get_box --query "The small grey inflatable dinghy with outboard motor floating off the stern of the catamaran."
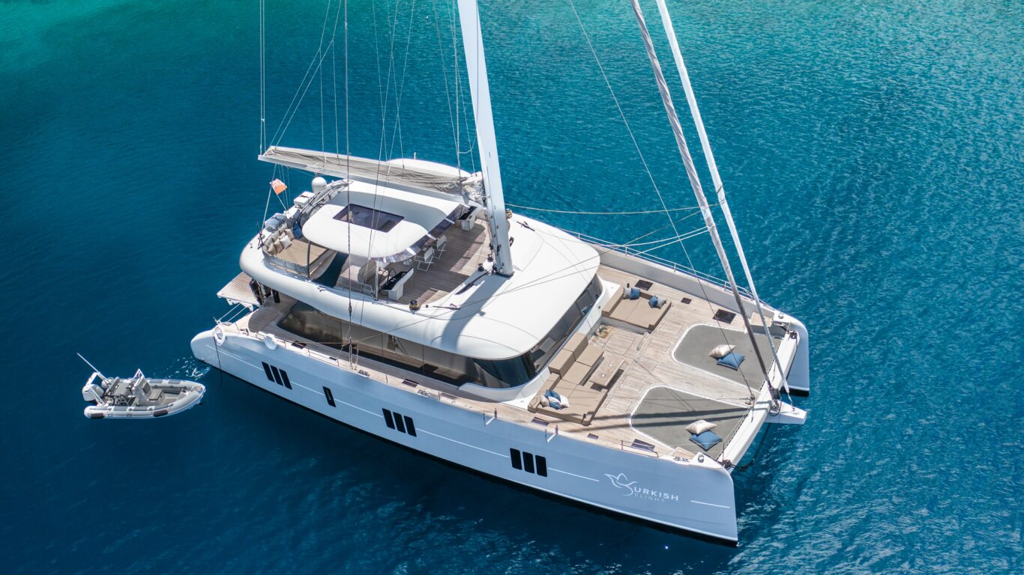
[73,353,206,422]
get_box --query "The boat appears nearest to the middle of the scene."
[192,0,811,545]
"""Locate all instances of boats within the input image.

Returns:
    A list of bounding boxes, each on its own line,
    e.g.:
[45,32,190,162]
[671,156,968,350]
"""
[192,0,811,545]
[73,353,206,422]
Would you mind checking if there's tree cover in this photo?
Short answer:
No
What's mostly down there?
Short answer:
water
